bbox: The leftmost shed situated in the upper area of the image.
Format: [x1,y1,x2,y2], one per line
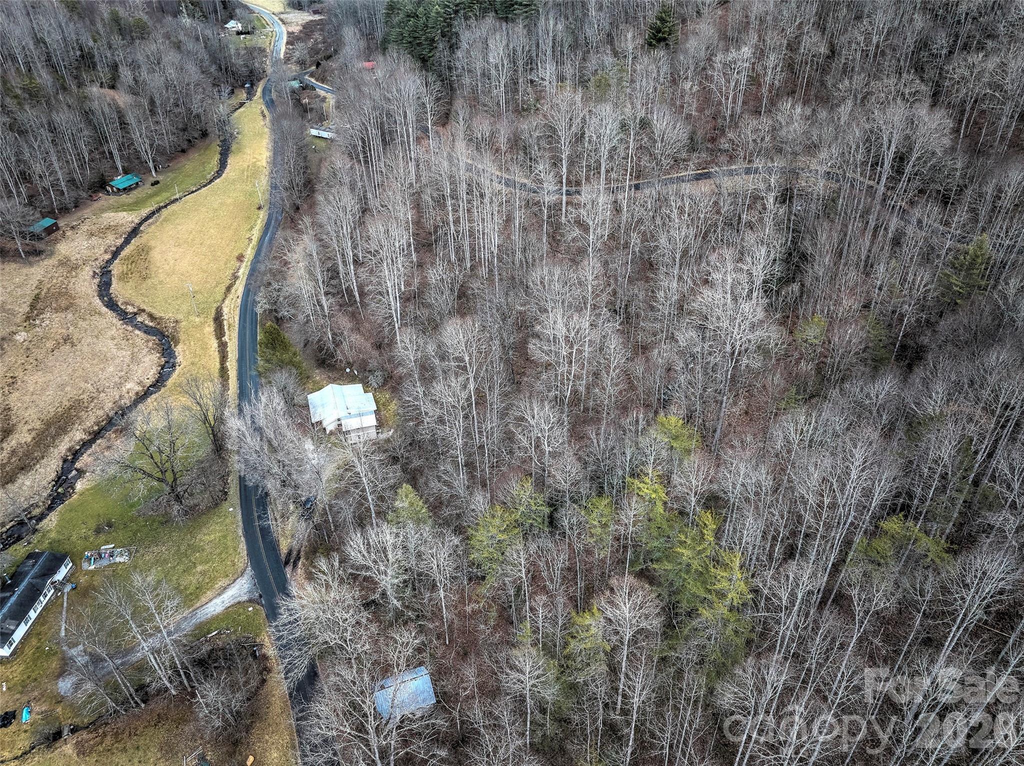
[29,219,60,240]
